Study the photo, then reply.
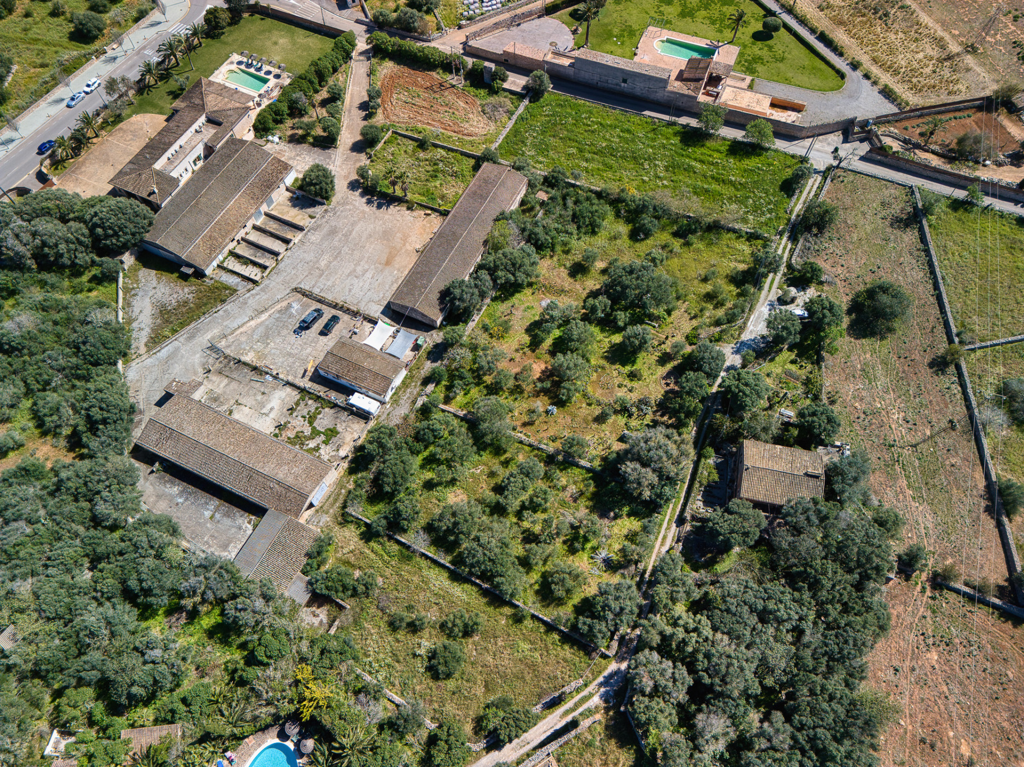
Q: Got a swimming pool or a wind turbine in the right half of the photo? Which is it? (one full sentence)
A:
There is a swimming pool in the right half of the photo.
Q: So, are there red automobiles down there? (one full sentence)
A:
No, I can see no red automobile in this picture.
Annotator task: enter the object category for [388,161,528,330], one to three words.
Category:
barn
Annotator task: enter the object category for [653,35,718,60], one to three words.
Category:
swimming pool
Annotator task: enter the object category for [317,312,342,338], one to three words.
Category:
car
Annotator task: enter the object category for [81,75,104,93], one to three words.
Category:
car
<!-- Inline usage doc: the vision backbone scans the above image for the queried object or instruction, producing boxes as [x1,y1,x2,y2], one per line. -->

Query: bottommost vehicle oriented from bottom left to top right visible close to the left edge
[35,135,56,154]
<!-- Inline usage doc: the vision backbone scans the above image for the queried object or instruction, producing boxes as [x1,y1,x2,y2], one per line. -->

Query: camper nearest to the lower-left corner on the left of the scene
[348,392,384,422]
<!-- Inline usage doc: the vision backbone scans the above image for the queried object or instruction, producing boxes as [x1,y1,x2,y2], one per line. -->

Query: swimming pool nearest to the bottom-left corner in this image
[243,737,302,767]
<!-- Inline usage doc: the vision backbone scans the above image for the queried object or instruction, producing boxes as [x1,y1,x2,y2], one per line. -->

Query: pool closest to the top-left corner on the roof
[221,65,273,93]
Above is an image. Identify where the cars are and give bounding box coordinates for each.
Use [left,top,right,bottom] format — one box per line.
[317,312,342,338]
[295,306,327,332]
[35,135,56,154]
[785,306,811,321]
[81,75,104,93]
[65,90,88,108]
